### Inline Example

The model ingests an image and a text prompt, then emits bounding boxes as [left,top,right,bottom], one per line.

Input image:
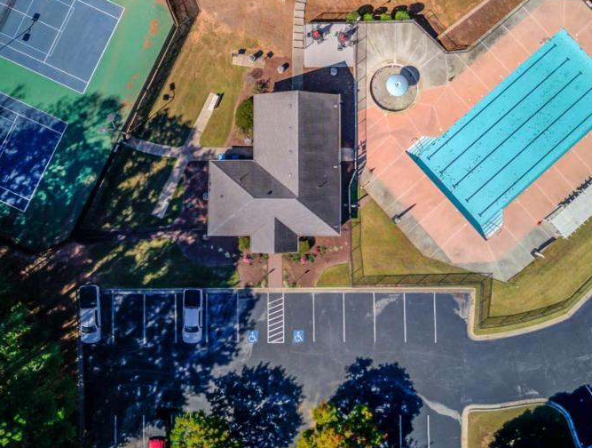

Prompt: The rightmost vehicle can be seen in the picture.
[181,288,203,346]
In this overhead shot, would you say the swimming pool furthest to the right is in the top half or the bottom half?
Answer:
top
